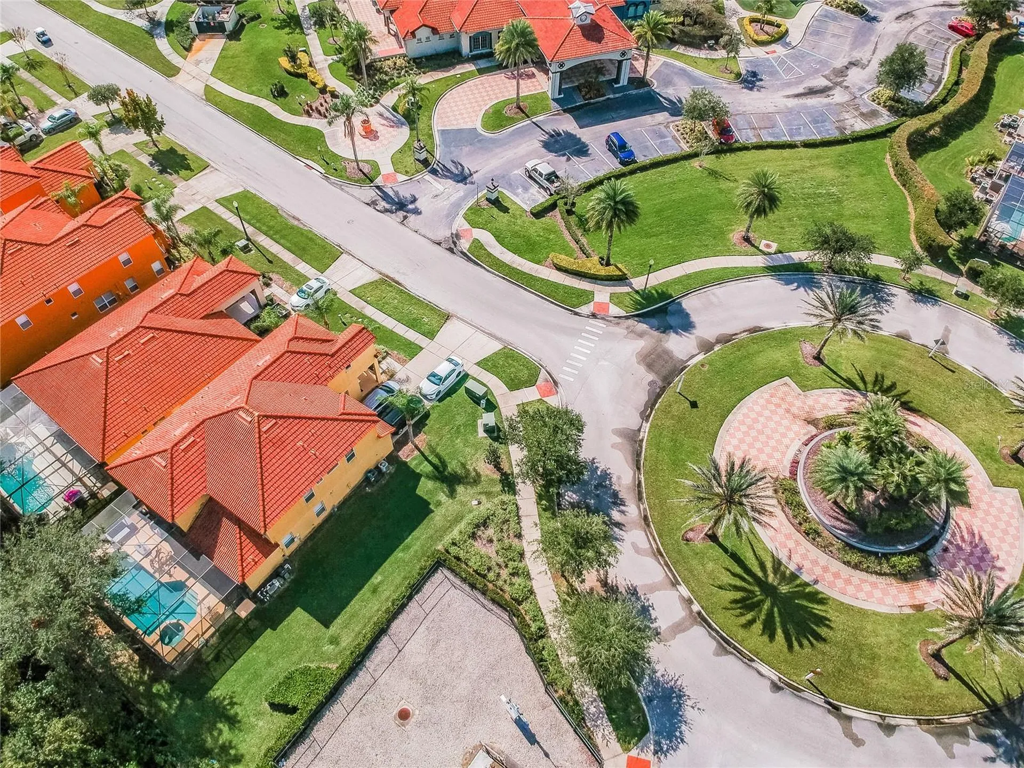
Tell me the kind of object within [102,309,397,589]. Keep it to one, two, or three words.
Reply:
house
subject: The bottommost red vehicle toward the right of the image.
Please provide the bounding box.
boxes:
[712,112,736,140]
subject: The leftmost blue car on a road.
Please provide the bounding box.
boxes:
[607,127,635,161]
